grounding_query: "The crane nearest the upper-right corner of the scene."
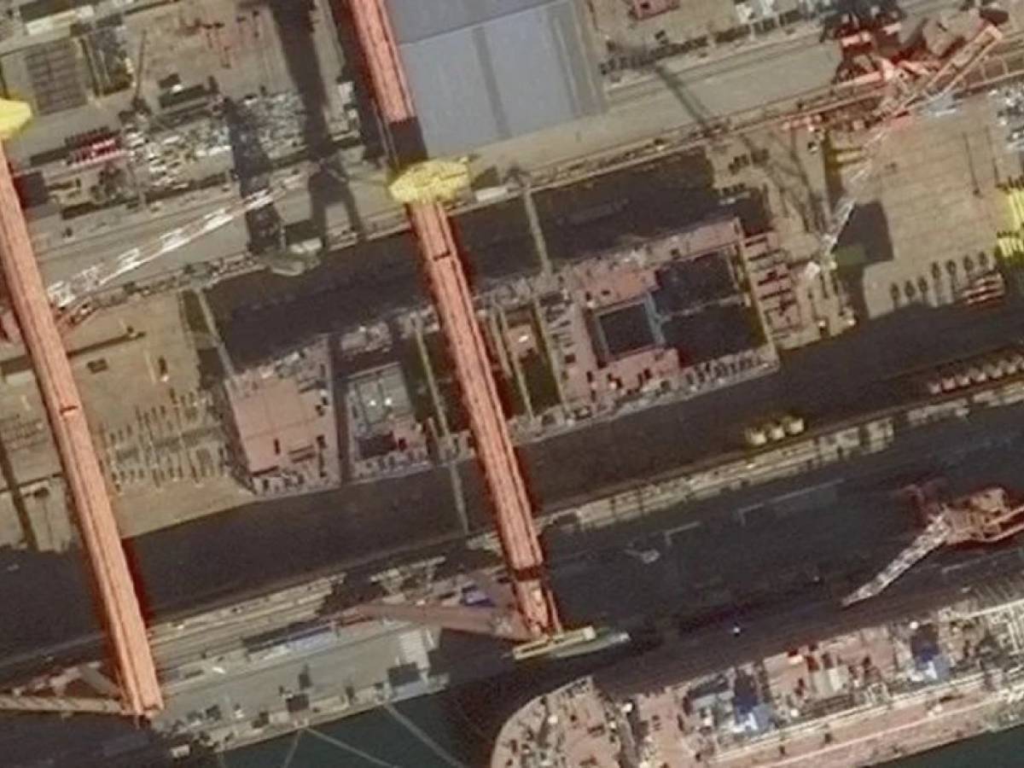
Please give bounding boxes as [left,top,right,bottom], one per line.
[784,22,1006,277]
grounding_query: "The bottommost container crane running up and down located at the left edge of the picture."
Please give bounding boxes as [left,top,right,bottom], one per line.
[0,91,159,719]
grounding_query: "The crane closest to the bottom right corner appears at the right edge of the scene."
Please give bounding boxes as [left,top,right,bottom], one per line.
[818,479,1024,607]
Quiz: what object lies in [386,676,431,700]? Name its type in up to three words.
shed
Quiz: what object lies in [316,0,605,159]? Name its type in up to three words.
building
